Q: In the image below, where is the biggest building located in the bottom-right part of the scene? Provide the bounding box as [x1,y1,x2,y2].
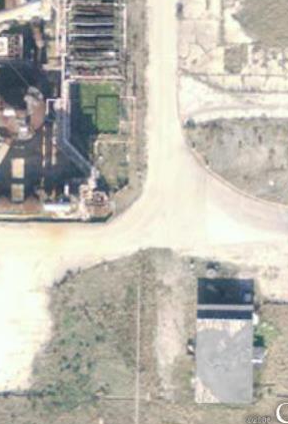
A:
[198,320,256,405]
